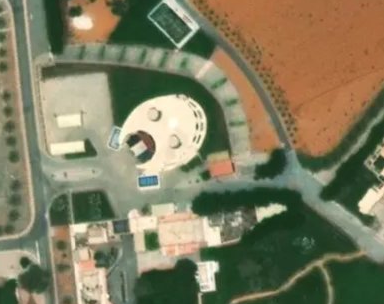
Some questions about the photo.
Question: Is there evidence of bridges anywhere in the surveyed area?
No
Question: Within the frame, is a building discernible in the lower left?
Yes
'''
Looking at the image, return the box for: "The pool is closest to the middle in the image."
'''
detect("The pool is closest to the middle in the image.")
[137,174,160,189]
